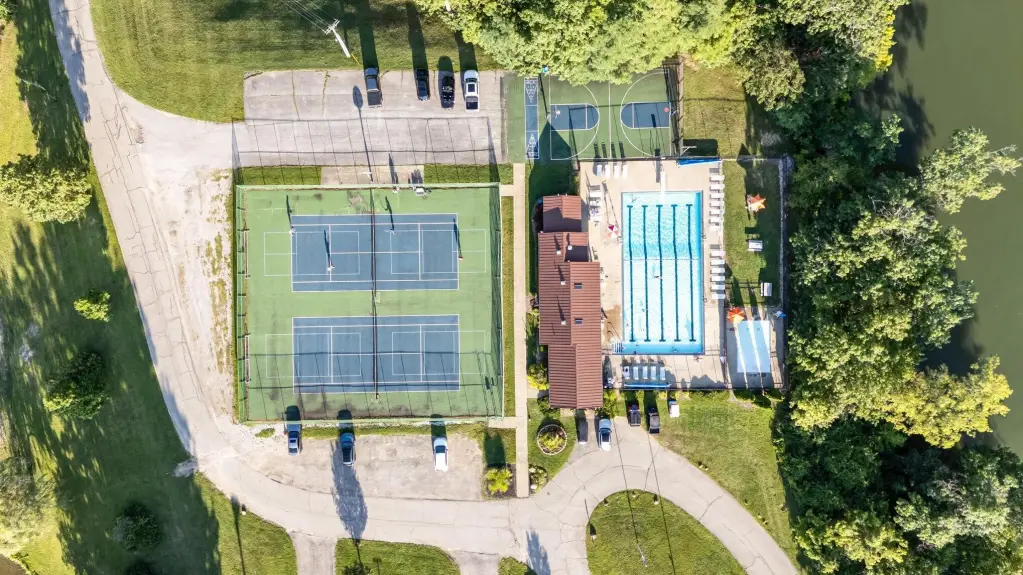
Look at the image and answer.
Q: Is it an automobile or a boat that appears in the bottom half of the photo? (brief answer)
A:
automobile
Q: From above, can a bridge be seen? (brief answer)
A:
No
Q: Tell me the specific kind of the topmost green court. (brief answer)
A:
basketball court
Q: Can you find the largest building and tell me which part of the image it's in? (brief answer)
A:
center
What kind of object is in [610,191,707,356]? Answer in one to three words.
swimming pool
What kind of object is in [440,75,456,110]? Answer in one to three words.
car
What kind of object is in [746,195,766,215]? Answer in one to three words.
umbrella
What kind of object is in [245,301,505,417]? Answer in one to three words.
tennis court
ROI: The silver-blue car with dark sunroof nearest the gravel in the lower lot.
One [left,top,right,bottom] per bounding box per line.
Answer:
[286,422,303,455]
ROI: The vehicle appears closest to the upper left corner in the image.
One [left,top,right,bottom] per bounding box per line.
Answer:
[366,68,384,109]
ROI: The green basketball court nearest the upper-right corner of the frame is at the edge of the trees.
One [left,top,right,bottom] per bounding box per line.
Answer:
[507,66,680,160]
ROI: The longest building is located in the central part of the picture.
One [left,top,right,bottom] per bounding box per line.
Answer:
[537,194,603,411]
